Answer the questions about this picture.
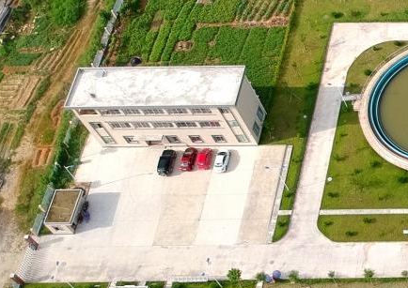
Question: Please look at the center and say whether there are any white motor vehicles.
Yes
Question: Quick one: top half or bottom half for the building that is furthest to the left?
bottom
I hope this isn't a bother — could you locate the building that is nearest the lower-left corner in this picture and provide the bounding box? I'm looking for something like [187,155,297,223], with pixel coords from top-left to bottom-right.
[43,188,87,235]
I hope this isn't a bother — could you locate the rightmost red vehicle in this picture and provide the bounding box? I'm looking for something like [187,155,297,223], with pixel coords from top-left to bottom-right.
[194,147,212,168]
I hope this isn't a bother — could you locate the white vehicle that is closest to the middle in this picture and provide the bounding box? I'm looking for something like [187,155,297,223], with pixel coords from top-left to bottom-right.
[212,150,229,171]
